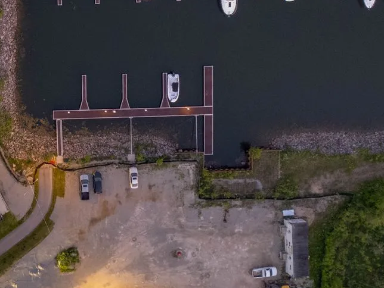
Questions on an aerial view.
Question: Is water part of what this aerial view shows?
Yes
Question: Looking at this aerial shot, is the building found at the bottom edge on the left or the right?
right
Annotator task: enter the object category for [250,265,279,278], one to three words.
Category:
vehicle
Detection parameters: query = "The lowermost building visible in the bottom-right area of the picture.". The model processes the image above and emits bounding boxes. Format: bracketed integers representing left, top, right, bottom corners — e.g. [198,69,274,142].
[277,218,309,278]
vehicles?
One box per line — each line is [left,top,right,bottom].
[79,173,91,201]
[250,265,279,278]
[128,165,140,189]
[92,170,104,194]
